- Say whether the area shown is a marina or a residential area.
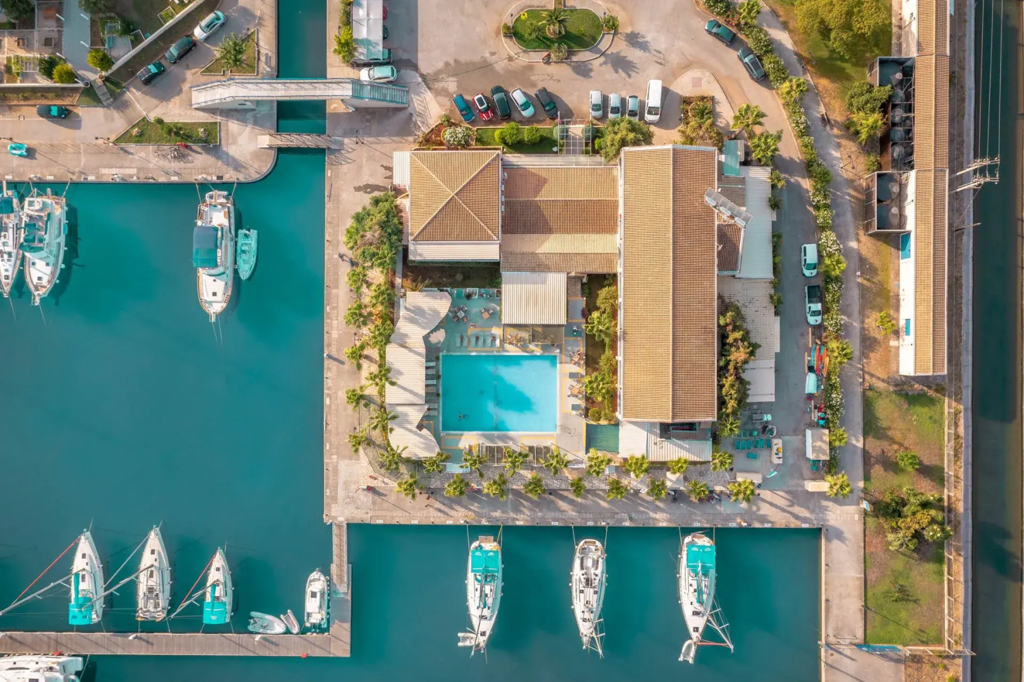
marina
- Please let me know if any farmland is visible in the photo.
No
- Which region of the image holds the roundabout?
top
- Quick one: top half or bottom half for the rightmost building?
top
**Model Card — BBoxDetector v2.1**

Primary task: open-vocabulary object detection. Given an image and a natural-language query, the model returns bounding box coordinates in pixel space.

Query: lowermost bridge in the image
[258,132,344,148]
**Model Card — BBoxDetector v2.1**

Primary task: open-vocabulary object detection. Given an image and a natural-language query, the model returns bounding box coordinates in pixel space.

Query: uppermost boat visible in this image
[7,143,28,156]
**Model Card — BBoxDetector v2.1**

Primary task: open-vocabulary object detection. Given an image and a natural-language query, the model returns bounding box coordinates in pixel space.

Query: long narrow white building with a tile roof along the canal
[899,0,951,376]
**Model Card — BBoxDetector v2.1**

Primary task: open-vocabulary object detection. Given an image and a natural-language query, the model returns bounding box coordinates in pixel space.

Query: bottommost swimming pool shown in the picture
[439,349,561,437]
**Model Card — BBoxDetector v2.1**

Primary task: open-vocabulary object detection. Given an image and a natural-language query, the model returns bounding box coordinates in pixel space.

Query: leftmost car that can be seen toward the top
[36,103,70,120]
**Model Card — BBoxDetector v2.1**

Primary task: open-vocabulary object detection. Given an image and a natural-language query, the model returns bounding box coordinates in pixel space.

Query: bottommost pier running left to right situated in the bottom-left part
[0,588,351,657]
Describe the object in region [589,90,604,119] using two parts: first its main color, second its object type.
white car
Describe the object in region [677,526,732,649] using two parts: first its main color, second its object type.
white boat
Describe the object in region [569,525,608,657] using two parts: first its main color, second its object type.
white boat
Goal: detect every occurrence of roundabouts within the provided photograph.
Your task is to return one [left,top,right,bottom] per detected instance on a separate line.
[502,0,615,62]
